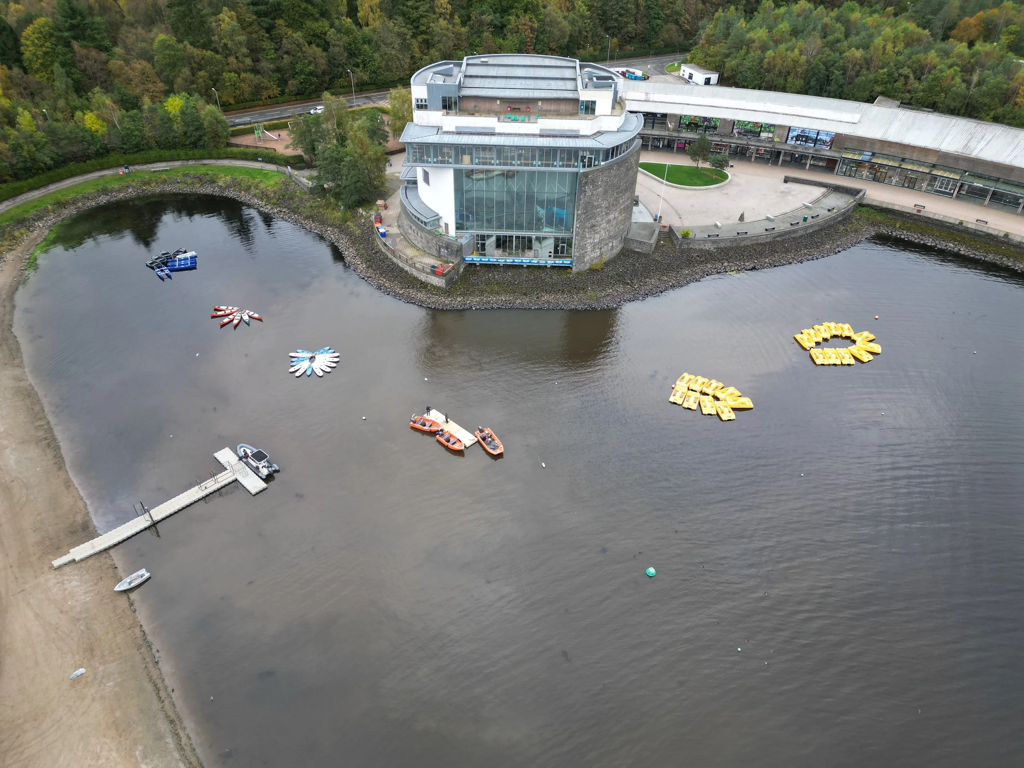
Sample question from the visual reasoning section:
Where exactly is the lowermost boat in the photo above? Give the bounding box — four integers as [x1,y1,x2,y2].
[114,569,149,592]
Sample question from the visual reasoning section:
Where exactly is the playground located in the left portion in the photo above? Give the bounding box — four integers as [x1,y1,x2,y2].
[231,115,408,178]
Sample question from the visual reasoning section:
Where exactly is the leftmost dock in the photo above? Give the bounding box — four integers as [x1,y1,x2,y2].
[54,448,265,572]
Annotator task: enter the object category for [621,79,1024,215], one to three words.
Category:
building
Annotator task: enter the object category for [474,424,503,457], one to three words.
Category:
boat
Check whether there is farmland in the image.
No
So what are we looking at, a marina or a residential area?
marina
